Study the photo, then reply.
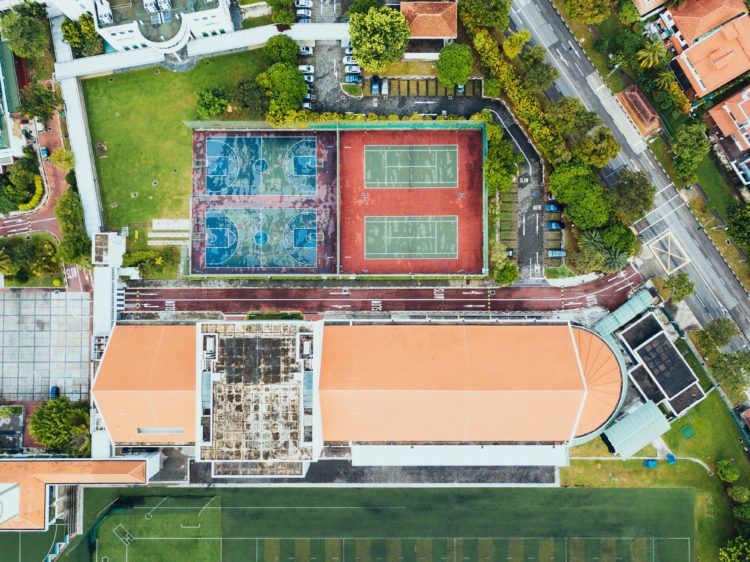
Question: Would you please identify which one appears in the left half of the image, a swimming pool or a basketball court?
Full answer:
The feature located in the left half of the image is a basketball court.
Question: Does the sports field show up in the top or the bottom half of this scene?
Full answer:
You can find the sports field in the bottom half.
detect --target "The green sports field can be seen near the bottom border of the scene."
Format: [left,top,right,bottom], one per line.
[64,488,696,562]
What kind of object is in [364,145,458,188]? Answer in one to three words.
tennis court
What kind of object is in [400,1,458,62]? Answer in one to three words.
building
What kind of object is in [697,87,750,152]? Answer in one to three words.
house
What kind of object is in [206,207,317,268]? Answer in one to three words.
basketball court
